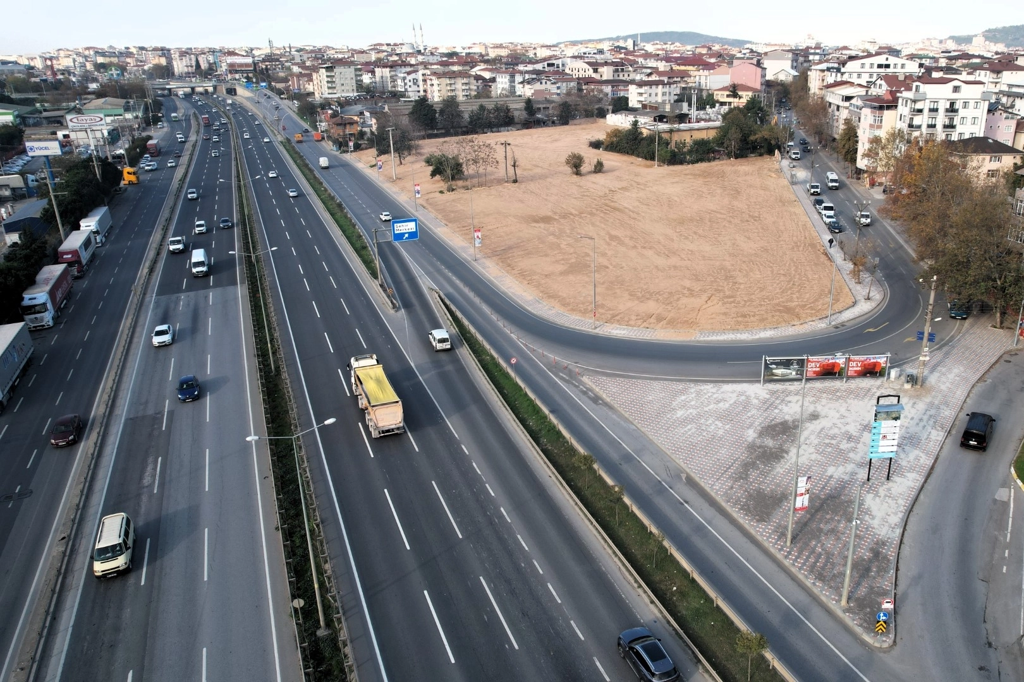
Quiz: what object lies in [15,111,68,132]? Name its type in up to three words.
house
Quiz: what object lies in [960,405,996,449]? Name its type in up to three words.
van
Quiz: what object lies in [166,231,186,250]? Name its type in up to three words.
vehicle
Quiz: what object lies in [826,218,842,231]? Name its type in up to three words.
vehicle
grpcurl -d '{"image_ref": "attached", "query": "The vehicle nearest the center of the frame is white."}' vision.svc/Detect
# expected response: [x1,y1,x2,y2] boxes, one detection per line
[425,323,450,349]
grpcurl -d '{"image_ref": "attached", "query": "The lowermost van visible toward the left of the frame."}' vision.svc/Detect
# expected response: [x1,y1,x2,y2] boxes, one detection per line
[89,505,136,576]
